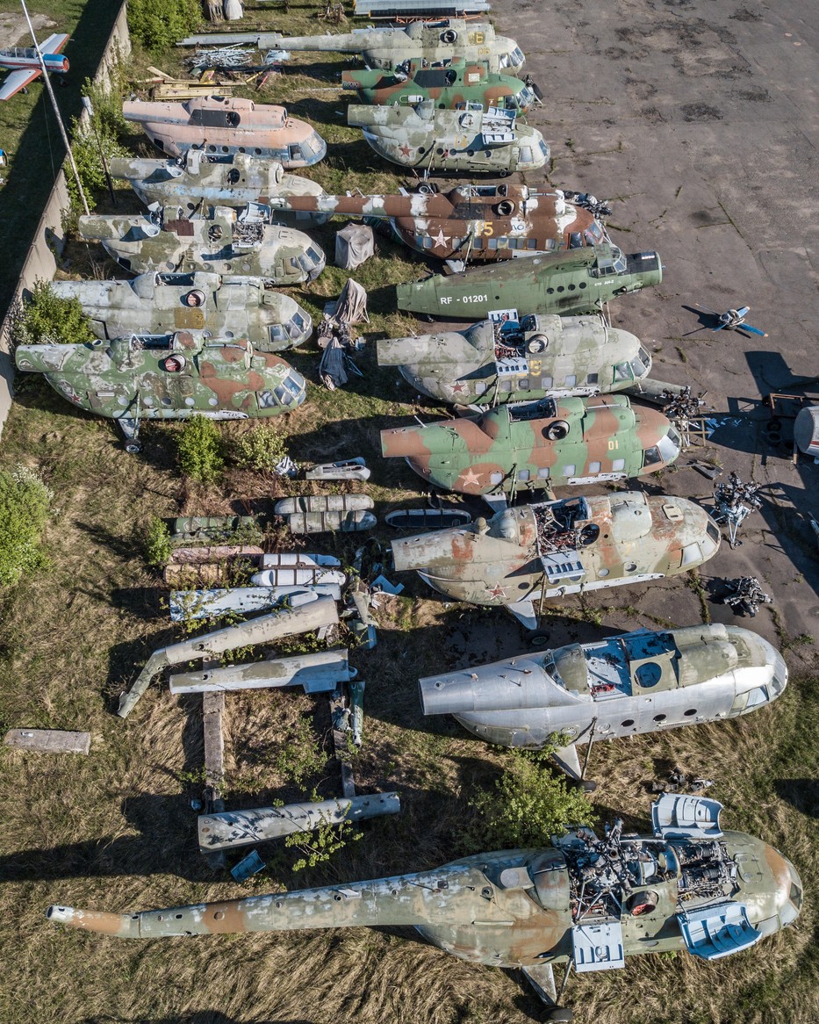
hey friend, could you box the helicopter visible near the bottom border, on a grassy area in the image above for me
[35,789,810,1024]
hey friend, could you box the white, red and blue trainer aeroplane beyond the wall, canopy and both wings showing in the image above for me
[0,35,73,105]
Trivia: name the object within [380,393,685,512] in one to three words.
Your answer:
helicopter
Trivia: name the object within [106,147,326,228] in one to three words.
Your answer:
helicopter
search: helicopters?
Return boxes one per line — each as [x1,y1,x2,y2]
[118,91,327,170]
[389,488,725,639]
[258,21,525,76]
[73,191,326,293]
[380,393,685,512]
[342,56,533,115]
[106,147,326,228]
[35,789,810,1024]
[417,621,795,795]
[345,95,550,192]
[7,327,307,453]
[275,185,606,269]
[377,299,654,410]
[47,266,313,356]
